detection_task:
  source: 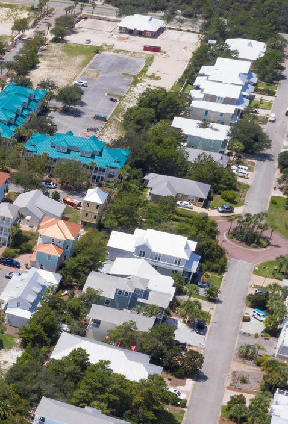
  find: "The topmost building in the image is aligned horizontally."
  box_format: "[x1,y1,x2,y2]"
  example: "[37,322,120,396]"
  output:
[115,16,169,40]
